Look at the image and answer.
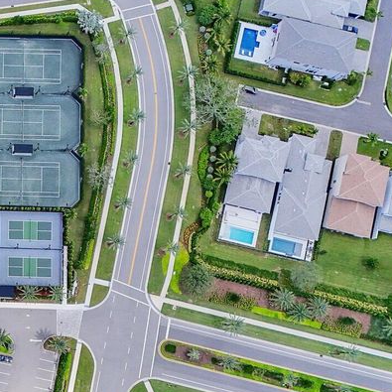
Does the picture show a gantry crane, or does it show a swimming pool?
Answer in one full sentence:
This aerial view contains a swimming pool.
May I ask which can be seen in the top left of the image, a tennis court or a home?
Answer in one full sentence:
There is a tennis court in the top left of the image.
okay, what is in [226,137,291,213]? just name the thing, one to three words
house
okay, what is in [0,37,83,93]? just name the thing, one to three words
tennis court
